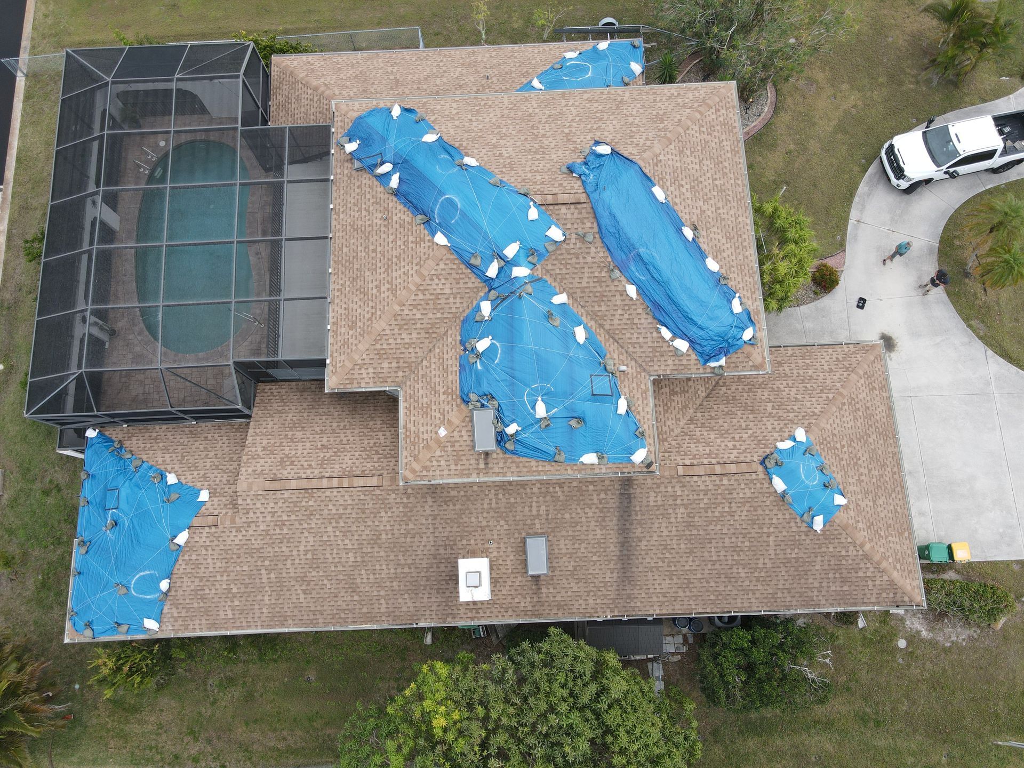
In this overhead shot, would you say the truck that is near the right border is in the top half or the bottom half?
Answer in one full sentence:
The truck that is near the right border is in the top half of the image.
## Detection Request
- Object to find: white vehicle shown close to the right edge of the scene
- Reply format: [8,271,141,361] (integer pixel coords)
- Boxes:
[879,108,1024,196]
